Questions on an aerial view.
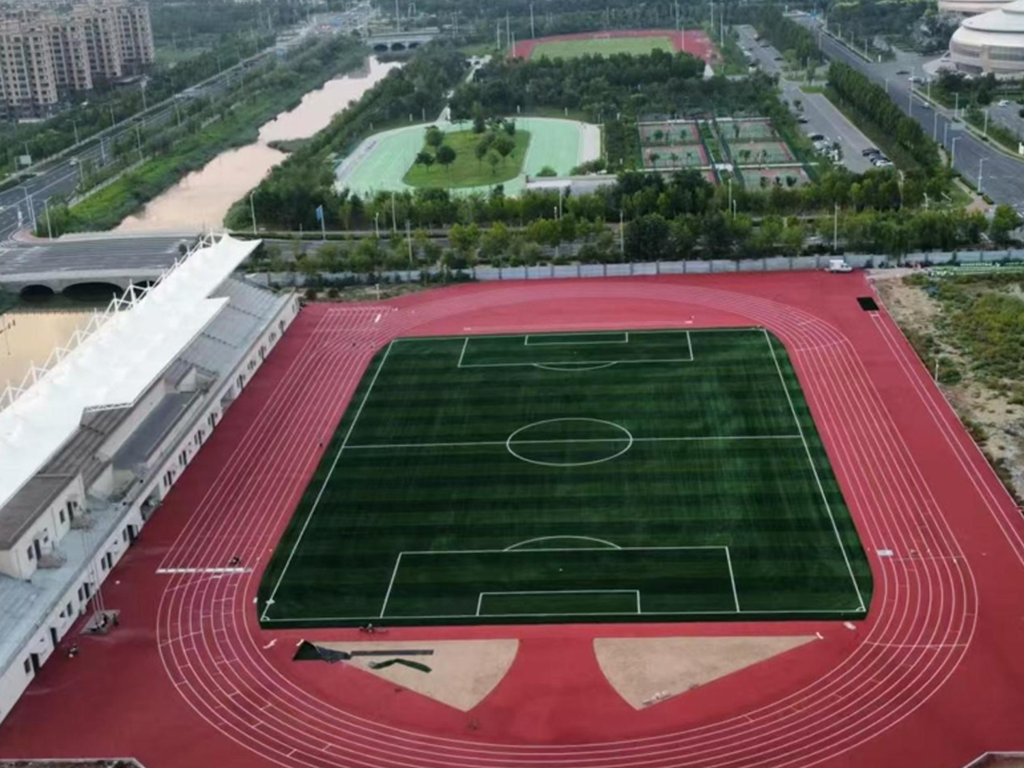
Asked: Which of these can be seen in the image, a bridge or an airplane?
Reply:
bridge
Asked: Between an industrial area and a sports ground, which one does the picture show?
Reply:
sports ground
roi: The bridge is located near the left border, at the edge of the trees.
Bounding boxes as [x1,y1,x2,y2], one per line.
[0,225,293,298]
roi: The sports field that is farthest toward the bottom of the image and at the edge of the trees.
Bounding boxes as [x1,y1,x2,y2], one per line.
[256,327,873,628]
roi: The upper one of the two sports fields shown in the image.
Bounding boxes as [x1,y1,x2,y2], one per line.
[527,36,675,66]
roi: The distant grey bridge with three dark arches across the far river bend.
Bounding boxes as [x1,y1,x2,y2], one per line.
[358,30,450,55]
